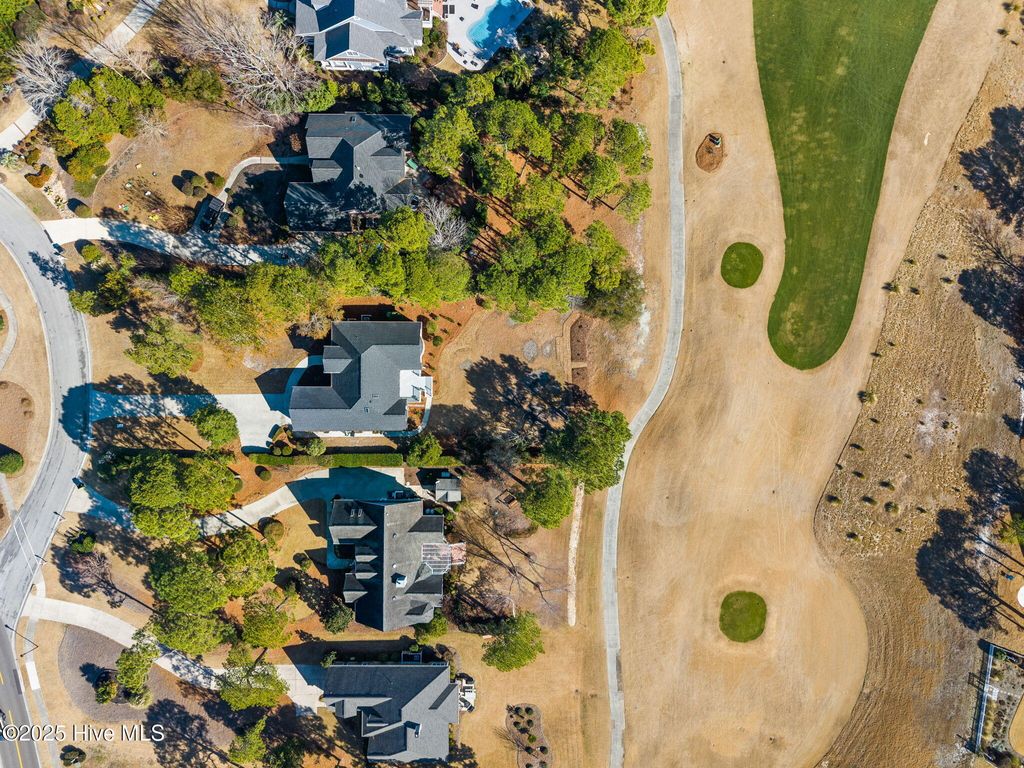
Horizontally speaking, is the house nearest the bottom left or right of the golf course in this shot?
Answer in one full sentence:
The house nearest the bottom is to the left of the golf course.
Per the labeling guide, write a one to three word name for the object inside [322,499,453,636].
house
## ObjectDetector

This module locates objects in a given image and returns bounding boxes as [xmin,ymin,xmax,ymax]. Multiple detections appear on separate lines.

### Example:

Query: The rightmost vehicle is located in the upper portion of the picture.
[196,191,223,234]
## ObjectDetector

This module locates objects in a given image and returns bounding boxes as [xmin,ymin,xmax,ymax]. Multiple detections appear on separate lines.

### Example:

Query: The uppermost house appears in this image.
[295,0,436,69]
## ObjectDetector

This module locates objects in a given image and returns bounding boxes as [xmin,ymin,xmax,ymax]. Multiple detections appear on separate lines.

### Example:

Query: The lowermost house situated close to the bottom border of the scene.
[322,659,459,762]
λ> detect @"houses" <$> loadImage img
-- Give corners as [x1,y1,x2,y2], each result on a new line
[277,113,419,232]
[322,499,453,636]
[295,0,436,69]
[322,659,459,762]
[283,321,432,431]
